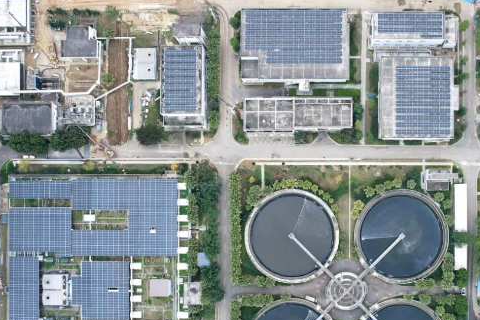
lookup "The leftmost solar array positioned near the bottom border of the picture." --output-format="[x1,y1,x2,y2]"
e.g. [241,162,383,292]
[9,257,38,320]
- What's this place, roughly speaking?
industrial area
